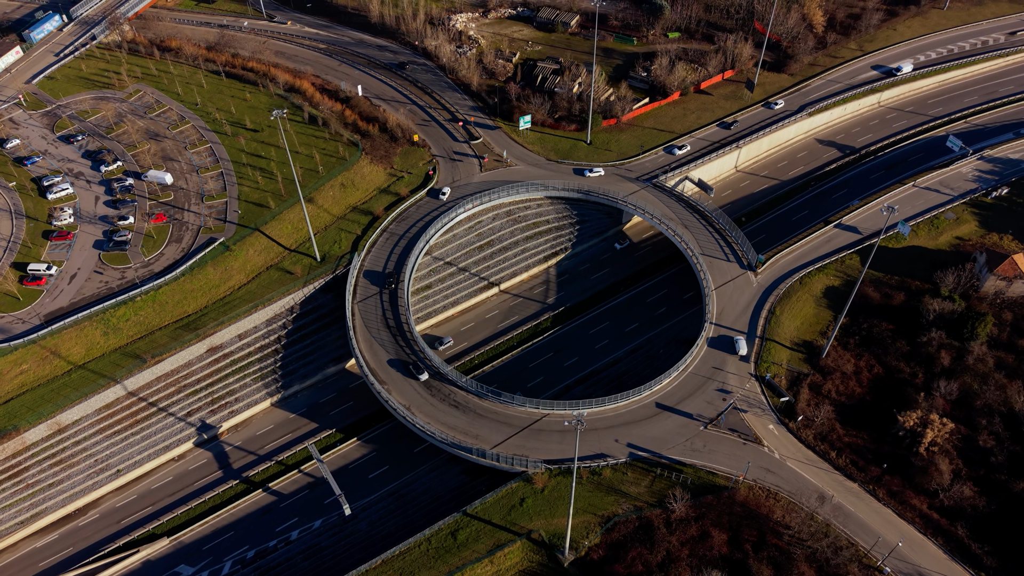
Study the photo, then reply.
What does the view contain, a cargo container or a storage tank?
cargo container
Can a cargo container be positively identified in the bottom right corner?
No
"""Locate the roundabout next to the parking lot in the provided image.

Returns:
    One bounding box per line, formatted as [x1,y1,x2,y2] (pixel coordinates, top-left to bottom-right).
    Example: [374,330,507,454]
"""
[346,159,770,473]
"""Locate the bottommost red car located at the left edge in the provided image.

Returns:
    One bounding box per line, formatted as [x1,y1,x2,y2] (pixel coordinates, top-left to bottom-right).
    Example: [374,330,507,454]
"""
[20,274,47,287]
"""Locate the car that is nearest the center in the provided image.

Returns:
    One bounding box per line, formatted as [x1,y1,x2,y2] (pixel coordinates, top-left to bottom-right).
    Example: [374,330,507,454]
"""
[431,334,456,352]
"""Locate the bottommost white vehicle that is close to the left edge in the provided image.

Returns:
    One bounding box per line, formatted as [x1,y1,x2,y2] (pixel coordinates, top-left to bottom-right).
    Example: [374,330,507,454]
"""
[23,260,57,276]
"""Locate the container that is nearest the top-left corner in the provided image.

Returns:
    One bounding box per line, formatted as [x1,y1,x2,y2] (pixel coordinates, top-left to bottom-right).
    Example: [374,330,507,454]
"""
[22,13,63,44]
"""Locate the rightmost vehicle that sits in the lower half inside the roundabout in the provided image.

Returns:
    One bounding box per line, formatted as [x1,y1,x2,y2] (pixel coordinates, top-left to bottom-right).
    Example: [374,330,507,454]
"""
[733,336,750,359]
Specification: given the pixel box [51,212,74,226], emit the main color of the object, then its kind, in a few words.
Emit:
white car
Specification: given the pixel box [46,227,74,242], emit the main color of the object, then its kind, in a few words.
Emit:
red car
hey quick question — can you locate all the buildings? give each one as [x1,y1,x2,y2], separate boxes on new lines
[979,243,1024,295]
[0,42,23,73]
